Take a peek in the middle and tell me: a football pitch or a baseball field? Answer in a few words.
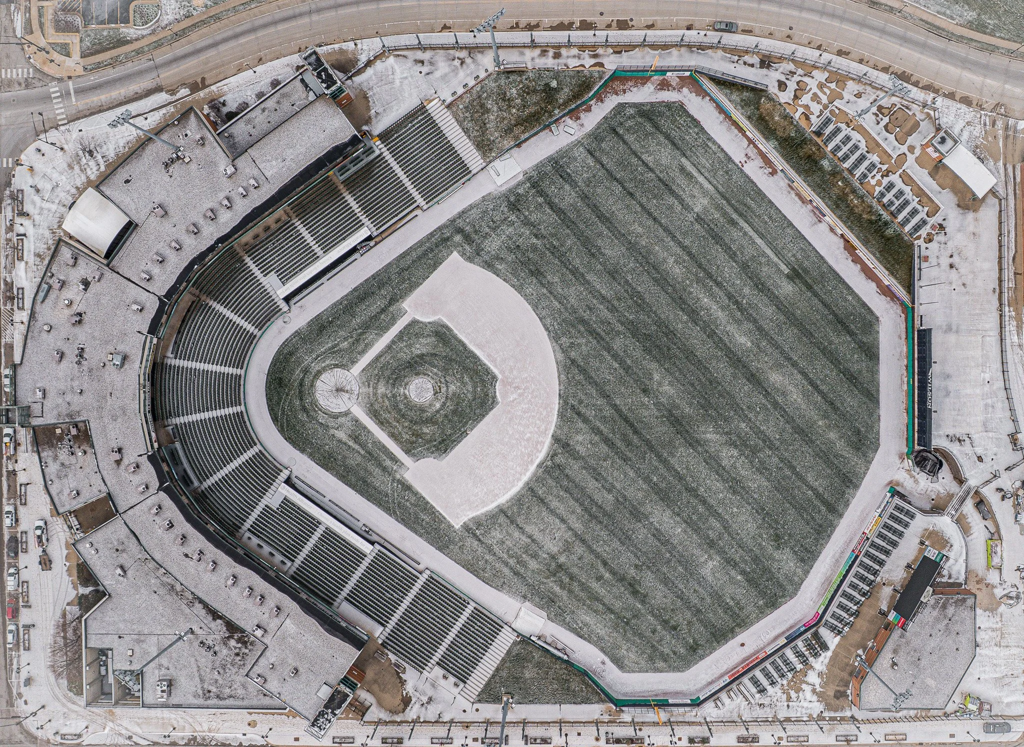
baseball field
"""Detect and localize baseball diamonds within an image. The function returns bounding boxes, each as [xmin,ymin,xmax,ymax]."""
[245,76,907,699]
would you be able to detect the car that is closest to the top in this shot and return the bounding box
[714,18,738,32]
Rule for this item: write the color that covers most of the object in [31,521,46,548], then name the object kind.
white vehicle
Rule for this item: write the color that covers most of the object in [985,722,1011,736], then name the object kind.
gray car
